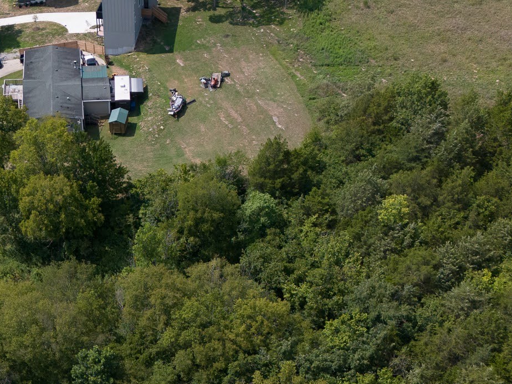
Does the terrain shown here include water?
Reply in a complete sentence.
No, water can't be seen anywhere here.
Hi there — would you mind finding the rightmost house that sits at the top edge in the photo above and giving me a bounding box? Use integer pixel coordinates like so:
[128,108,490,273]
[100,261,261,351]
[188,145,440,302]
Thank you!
[92,0,157,54]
